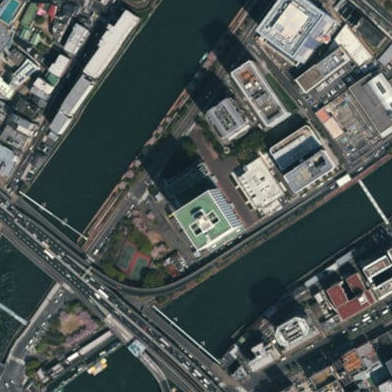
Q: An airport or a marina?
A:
marina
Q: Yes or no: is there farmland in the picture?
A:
No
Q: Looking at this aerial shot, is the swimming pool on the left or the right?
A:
left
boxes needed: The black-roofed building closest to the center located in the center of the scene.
[155,155,202,198]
